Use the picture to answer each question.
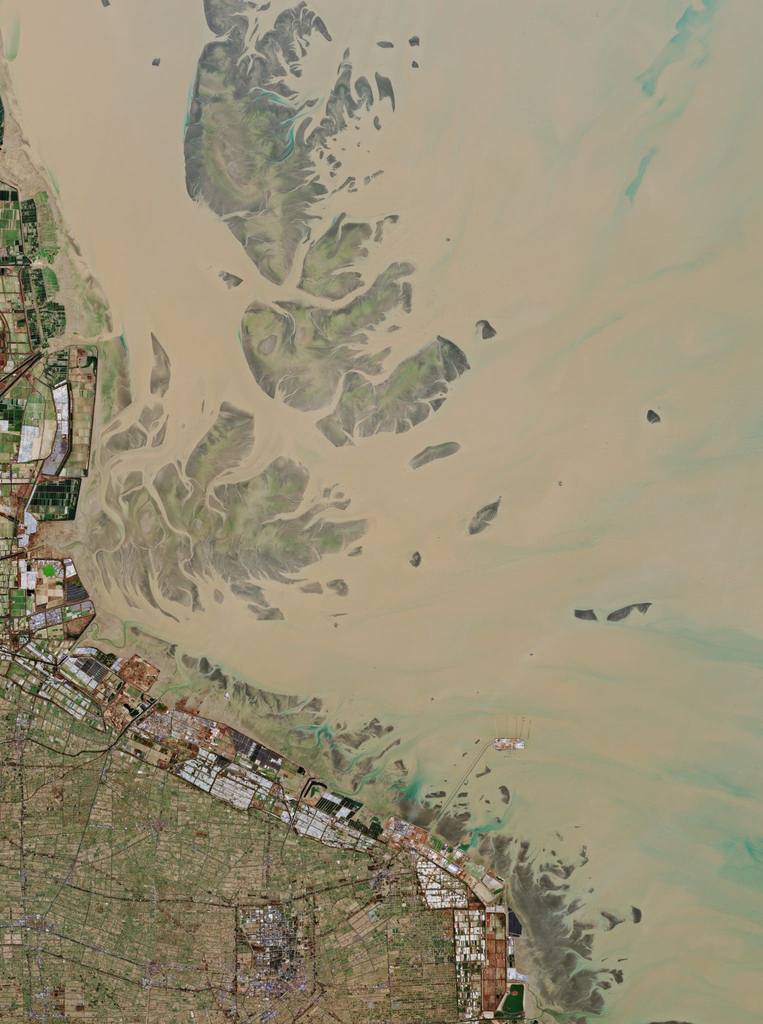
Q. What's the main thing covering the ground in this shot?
water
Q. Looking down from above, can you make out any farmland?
Yes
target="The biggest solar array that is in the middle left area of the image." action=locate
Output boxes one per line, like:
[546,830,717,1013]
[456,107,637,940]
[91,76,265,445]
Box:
[66,580,89,602]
